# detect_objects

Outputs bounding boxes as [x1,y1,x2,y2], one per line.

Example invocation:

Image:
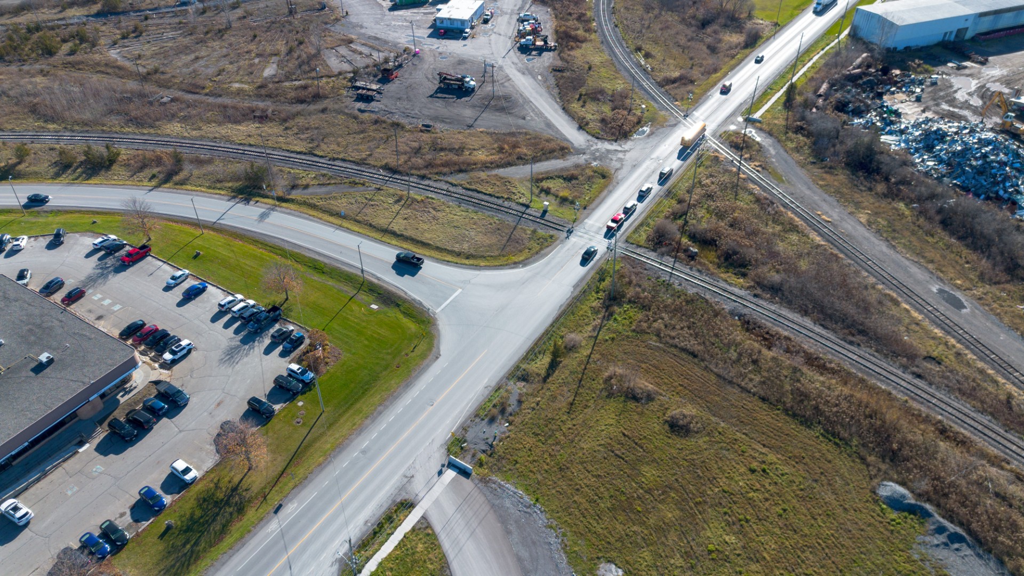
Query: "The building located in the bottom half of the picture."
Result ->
[0,274,145,473]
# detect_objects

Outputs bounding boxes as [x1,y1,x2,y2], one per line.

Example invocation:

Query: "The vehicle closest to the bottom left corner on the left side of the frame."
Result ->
[0,496,35,530]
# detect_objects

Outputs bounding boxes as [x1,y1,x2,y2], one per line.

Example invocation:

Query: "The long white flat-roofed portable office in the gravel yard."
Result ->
[431,0,479,28]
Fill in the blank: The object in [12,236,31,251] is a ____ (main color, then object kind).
white car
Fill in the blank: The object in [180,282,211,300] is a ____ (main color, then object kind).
blue car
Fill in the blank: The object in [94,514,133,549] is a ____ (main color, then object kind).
black car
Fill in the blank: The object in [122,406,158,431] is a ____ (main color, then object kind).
black car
